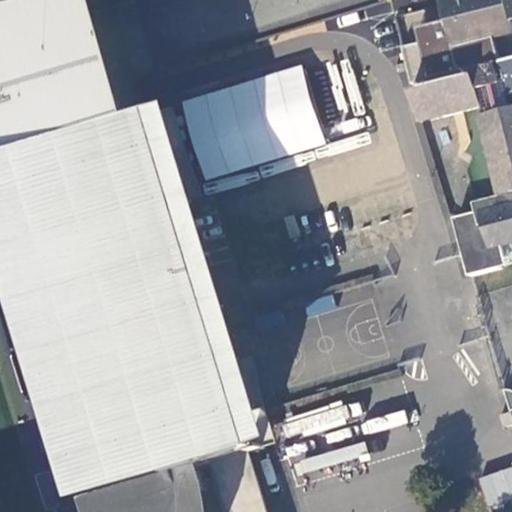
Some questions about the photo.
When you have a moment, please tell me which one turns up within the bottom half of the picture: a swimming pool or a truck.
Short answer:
truck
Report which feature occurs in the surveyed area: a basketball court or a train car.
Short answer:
basketball court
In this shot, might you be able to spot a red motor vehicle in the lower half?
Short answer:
No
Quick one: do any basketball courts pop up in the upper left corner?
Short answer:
No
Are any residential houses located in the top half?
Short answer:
Yes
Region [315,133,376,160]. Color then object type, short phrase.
white trailer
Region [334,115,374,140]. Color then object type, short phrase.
white truck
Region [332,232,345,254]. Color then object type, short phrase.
black vehicle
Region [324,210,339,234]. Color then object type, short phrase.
white vehicle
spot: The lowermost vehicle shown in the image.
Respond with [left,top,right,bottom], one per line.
[260,458,277,492]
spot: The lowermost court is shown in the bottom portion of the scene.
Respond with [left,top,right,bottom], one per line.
[256,293,396,396]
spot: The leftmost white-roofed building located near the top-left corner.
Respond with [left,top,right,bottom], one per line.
[0,0,120,142]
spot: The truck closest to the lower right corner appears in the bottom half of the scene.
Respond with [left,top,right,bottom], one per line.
[360,408,420,436]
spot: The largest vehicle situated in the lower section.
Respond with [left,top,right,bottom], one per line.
[282,404,362,439]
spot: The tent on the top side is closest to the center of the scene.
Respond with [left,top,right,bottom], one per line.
[182,66,326,184]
